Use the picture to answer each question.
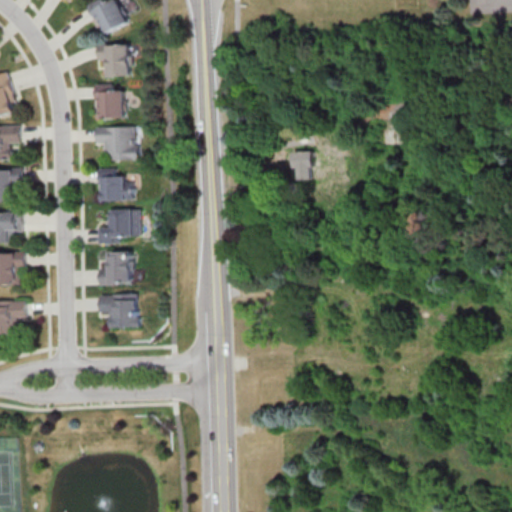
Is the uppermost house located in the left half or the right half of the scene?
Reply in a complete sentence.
The uppermost house appears in the left half of the scene.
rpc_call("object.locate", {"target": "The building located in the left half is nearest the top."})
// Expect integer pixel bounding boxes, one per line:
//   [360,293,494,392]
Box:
[87,0,124,33]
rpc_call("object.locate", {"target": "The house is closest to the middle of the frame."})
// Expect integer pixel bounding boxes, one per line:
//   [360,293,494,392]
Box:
[289,152,312,180]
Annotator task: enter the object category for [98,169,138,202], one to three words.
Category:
house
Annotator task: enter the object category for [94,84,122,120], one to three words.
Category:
house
